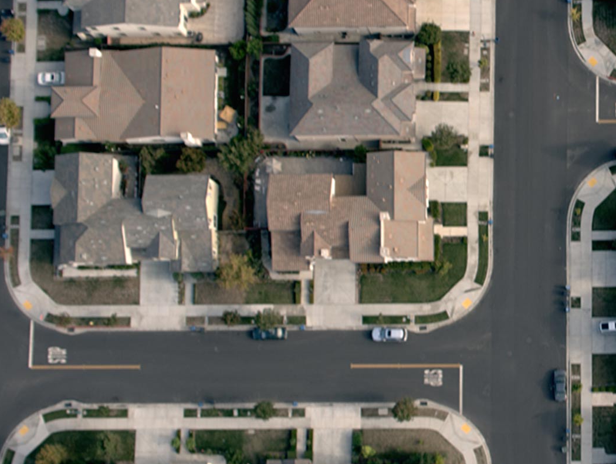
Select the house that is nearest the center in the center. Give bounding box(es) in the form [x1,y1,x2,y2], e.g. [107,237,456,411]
[265,150,437,274]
